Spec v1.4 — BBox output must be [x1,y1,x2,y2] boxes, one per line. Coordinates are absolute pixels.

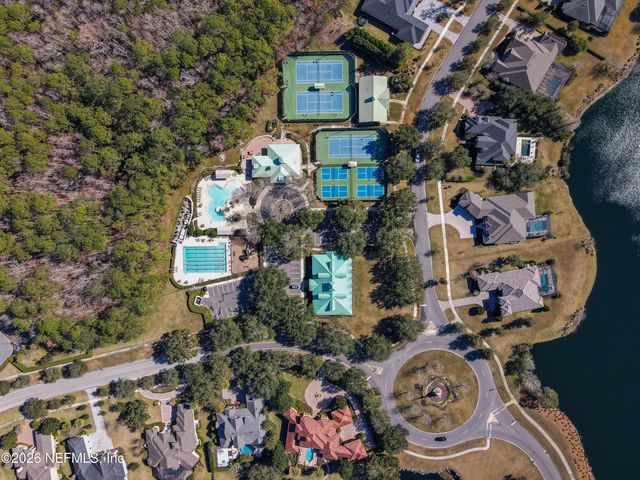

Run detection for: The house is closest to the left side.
[12,431,61,480]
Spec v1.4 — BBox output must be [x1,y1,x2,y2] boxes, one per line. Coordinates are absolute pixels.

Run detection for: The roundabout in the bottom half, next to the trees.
[364,304,516,450]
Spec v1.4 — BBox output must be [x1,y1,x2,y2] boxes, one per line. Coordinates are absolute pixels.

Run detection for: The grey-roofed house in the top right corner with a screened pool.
[559,0,610,28]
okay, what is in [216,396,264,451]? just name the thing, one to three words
house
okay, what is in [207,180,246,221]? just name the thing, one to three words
swimming pool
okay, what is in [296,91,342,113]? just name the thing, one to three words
tennis court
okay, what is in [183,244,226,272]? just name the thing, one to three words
swimming pool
